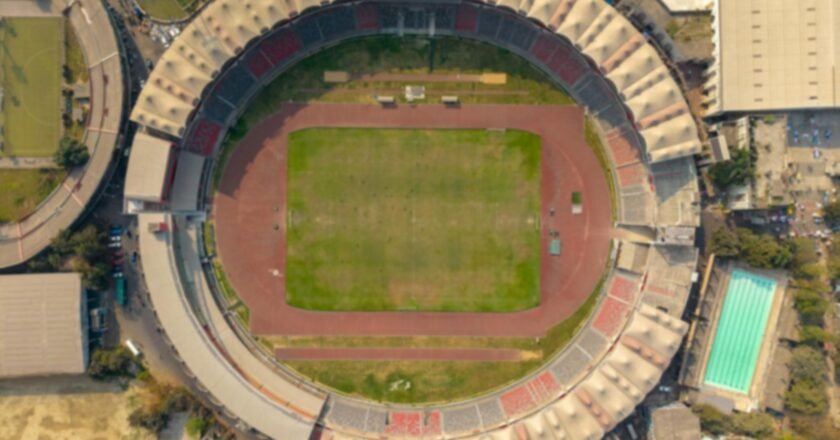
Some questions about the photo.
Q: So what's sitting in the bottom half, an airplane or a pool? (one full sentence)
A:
What appears in the bottom half is a pool.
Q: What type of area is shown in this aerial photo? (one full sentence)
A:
What you see here is a sports ground.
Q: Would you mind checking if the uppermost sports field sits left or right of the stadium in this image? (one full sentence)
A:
In the image, the uppermost sports field sits on the left side of the stadium.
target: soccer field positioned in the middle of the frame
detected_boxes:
[287,127,541,313]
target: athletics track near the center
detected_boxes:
[213,103,612,335]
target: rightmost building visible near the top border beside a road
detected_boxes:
[689,0,840,118]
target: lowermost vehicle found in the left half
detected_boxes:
[125,339,140,355]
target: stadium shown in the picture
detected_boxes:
[124,0,699,440]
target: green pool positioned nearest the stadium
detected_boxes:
[701,267,782,401]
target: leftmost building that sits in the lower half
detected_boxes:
[0,271,101,378]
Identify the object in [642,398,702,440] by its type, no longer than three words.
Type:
house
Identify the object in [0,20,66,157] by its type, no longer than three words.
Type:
sports field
